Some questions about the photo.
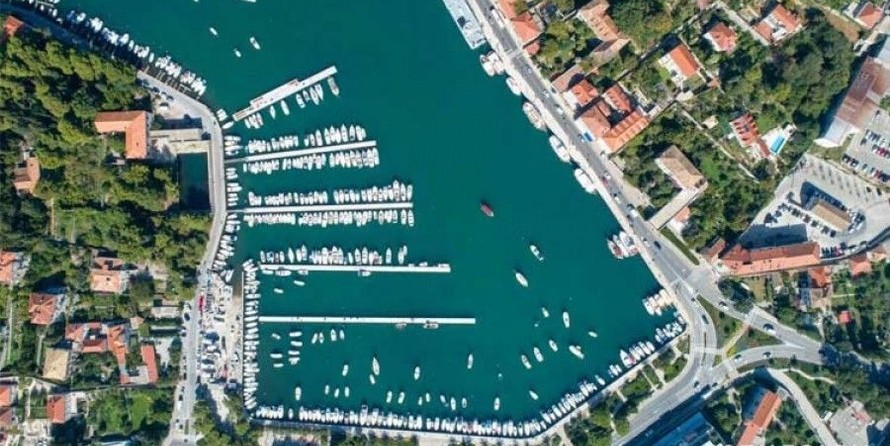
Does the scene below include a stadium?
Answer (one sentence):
No, I can see no stadium in this picture.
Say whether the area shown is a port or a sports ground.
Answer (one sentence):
The area seen from above is a port.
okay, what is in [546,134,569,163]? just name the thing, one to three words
boat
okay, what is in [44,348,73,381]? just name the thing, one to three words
house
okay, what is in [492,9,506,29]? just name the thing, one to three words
vehicle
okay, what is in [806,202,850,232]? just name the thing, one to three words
building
